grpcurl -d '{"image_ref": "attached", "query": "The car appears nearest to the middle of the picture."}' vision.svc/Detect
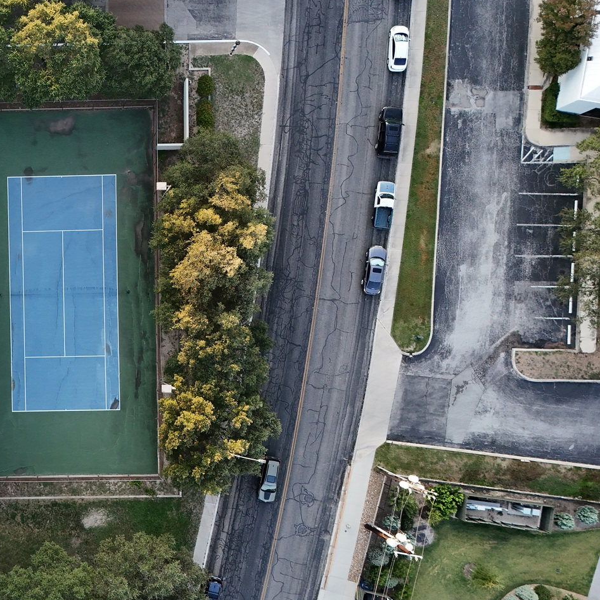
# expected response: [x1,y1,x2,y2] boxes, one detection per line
[361,246,389,296]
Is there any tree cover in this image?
Yes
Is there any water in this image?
No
